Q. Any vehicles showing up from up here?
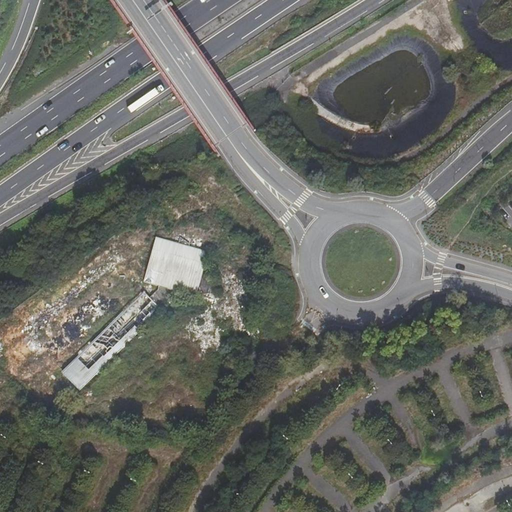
Yes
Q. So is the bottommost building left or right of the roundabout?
to the left of it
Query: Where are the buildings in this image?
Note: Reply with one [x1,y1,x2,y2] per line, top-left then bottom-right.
[61,292,156,390]
[143,236,202,290]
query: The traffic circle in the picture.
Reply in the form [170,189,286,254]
[300,202,422,322]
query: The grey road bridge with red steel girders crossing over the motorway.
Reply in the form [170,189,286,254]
[109,0,256,154]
